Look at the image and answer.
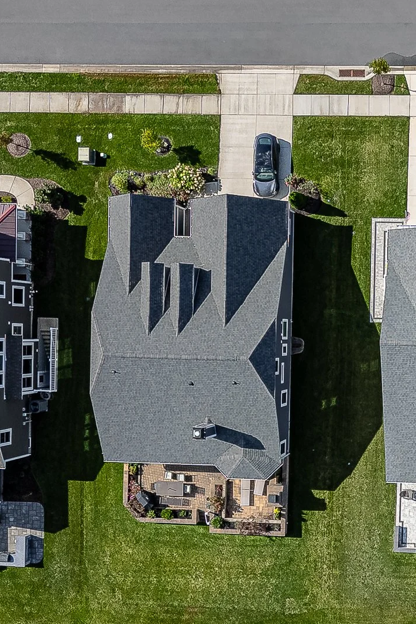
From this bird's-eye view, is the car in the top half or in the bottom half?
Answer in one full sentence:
You can find the car in the top half.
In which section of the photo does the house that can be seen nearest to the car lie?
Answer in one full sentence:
The house that can be seen nearest to the car appears toward the center of the photo.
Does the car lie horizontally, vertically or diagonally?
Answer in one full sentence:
What the image shows is the car lying vertically.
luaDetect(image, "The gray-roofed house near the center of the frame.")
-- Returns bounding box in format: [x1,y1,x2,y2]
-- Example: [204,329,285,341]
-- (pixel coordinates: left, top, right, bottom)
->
[89,194,297,481]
